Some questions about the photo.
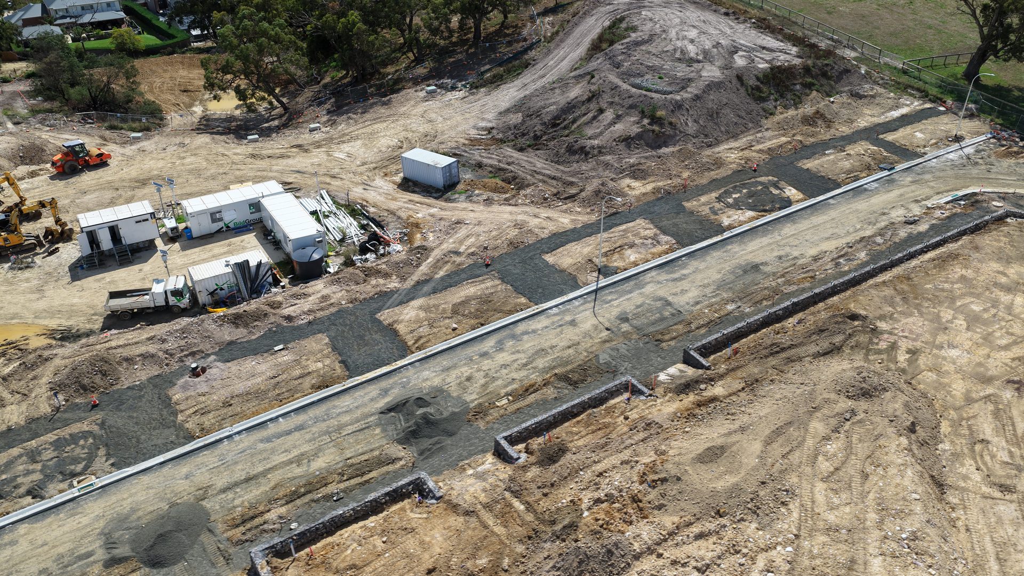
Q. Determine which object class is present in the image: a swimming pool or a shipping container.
shipping container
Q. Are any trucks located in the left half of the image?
Yes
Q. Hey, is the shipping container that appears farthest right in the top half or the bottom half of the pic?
top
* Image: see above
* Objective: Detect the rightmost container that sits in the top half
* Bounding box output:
[401,148,458,190]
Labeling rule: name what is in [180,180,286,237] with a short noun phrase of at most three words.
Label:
building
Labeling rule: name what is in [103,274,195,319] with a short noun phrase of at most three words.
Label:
truck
